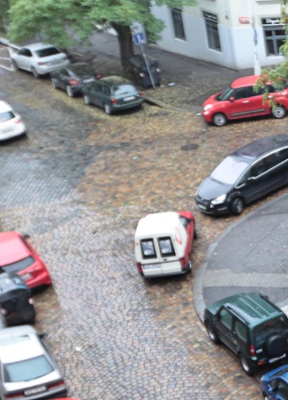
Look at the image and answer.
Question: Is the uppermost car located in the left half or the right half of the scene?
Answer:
left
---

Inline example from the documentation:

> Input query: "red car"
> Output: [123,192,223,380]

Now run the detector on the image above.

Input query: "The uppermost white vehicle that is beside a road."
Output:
[3,37,69,75]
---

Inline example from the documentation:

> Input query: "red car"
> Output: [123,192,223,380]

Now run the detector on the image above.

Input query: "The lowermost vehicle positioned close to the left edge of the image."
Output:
[0,323,70,400]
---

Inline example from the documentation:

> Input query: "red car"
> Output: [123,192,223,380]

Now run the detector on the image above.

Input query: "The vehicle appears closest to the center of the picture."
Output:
[130,199,199,277]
